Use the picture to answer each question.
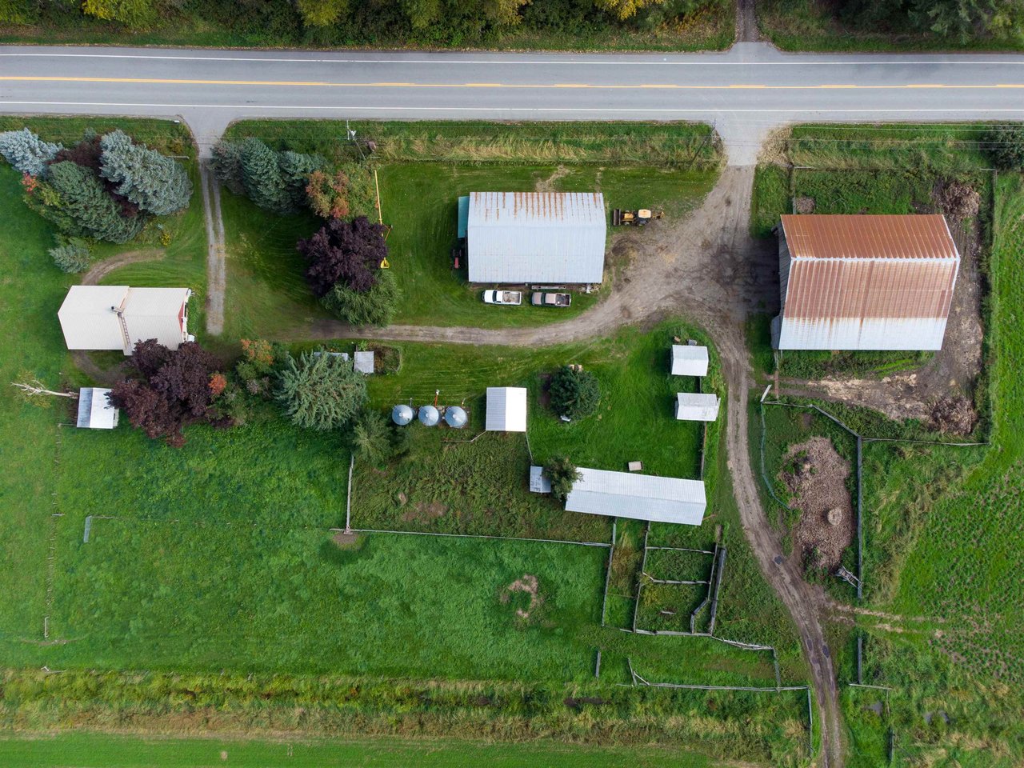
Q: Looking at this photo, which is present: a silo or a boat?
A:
silo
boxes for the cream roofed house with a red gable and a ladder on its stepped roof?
[58,285,194,357]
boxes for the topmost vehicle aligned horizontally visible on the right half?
[613,210,657,228]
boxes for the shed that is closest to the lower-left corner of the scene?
[77,388,122,429]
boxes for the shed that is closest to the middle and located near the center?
[486,387,527,432]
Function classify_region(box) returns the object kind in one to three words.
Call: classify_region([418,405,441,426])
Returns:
silo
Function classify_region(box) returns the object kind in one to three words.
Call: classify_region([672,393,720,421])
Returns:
shed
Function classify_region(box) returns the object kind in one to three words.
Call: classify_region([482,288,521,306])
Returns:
vehicle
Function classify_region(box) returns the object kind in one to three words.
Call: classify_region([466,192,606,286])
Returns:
shed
